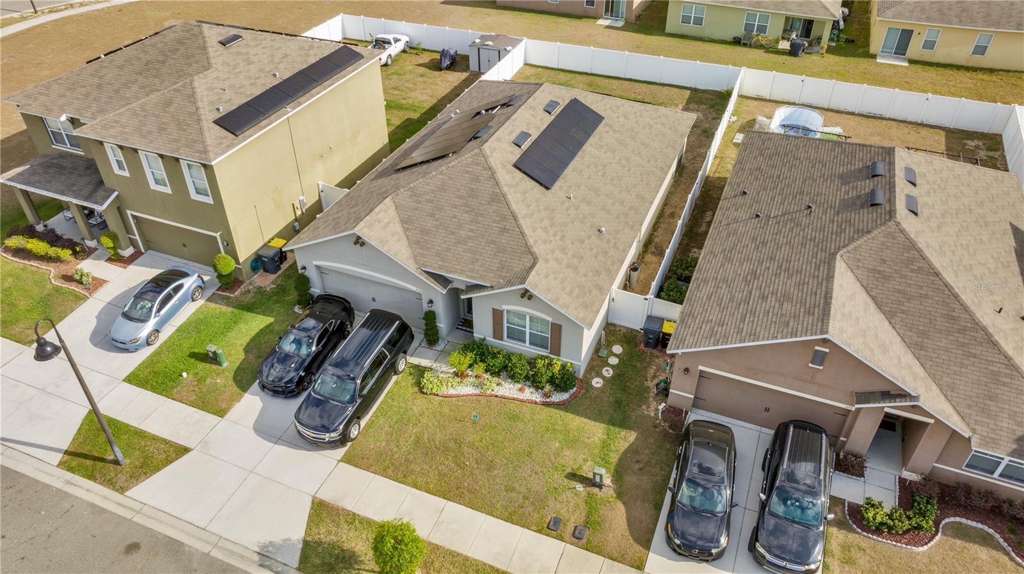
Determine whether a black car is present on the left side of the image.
Yes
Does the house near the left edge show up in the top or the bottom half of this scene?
top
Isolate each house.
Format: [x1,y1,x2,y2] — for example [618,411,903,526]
[280,80,697,377]
[870,0,1024,74]
[491,0,650,26]
[666,0,844,53]
[666,125,1024,503]
[0,12,388,282]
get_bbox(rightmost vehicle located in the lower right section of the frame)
[750,423,838,574]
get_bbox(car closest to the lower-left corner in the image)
[104,262,204,348]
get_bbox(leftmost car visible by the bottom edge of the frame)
[664,418,739,565]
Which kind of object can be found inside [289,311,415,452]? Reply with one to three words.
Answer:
car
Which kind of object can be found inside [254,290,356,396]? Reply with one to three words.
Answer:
car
